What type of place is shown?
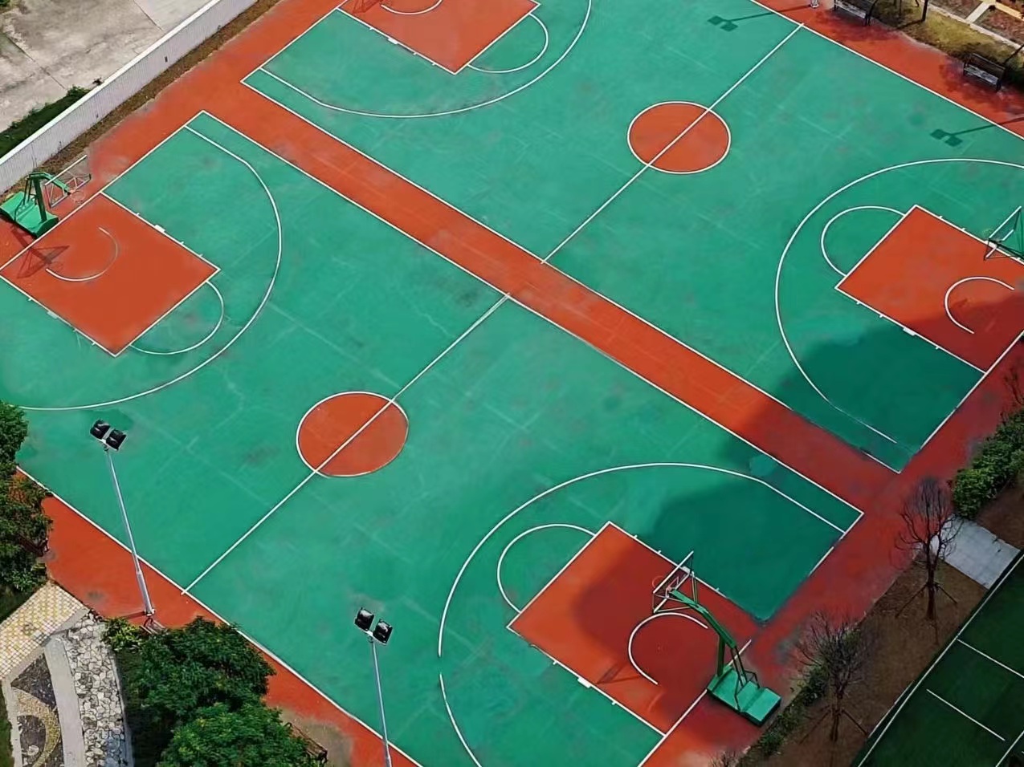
sports ground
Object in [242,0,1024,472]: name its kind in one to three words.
basketball court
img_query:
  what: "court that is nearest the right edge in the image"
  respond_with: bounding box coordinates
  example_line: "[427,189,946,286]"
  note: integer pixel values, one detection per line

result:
[849,554,1024,767]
